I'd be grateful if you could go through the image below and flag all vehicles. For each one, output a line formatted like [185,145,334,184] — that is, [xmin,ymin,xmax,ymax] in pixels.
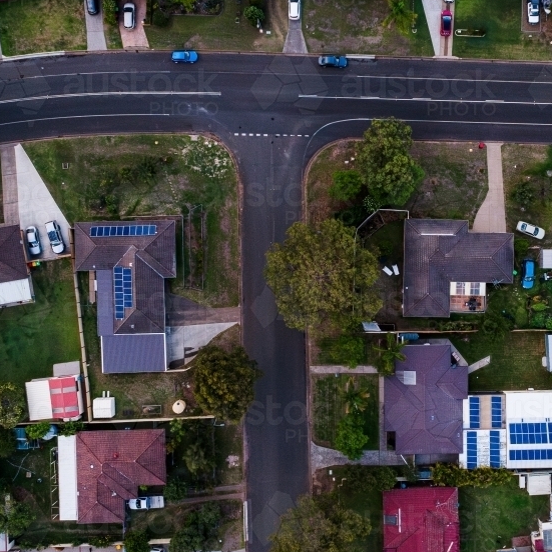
[287,0,300,21]
[86,0,100,17]
[526,0,540,24]
[25,227,42,256]
[171,50,198,64]
[318,55,347,67]
[45,221,65,254]
[440,11,453,37]
[122,4,136,30]
[516,220,545,239]
[129,495,165,511]
[521,258,535,288]
[147,546,167,552]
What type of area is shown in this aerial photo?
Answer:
residential area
